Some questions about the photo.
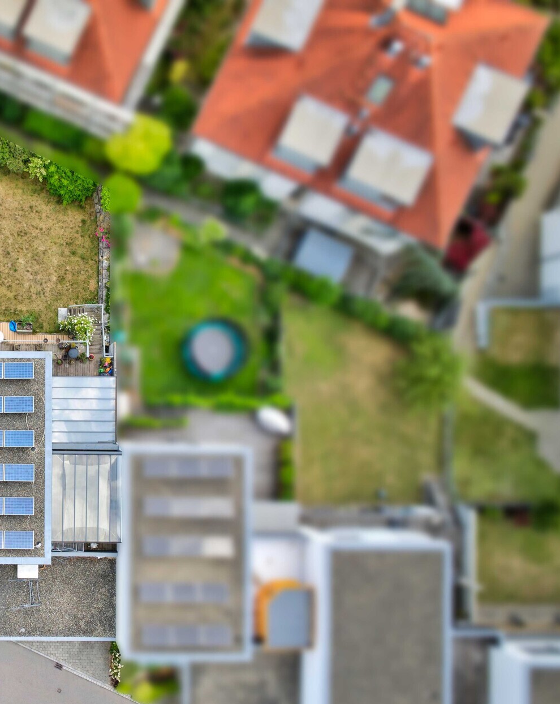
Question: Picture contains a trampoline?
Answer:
Yes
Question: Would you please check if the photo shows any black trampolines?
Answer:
No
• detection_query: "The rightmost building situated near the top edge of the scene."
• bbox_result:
[191,0,548,252]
